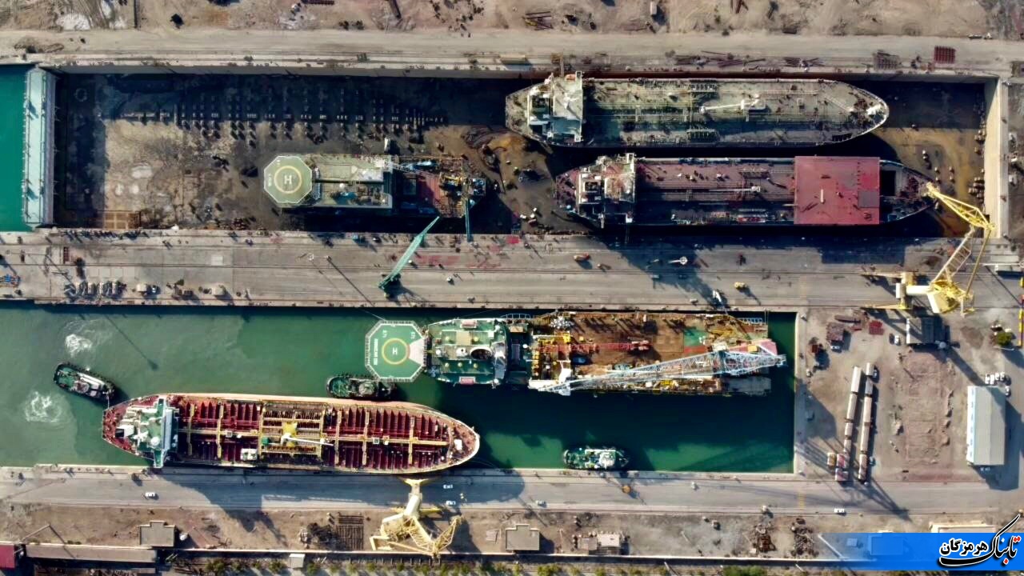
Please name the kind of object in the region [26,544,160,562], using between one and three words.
shed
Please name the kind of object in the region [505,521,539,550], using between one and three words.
building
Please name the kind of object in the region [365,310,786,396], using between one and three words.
ship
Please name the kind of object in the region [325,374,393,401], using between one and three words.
boat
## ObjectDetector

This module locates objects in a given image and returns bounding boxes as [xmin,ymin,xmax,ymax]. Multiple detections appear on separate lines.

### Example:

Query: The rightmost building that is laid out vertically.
[967,387,1005,467]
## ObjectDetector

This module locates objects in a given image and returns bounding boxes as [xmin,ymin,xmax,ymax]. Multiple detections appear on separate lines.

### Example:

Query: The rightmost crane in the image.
[864,181,997,323]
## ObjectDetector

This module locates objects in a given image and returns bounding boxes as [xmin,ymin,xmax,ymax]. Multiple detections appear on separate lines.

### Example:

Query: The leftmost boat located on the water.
[50,363,113,402]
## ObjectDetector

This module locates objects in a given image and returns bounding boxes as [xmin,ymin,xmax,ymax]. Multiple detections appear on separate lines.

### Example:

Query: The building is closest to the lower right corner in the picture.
[925,521,994,534]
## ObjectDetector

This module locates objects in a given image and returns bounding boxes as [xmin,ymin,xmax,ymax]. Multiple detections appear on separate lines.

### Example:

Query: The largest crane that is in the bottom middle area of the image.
[366,479,466,559]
